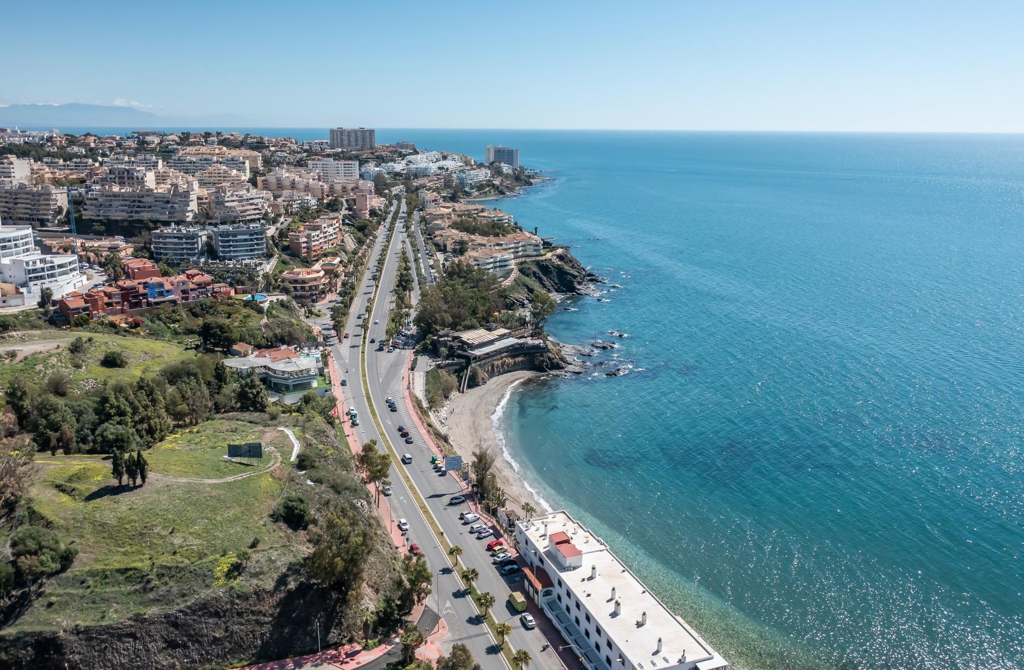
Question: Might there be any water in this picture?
Yes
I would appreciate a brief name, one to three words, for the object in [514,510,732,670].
building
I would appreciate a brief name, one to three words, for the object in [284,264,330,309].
building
